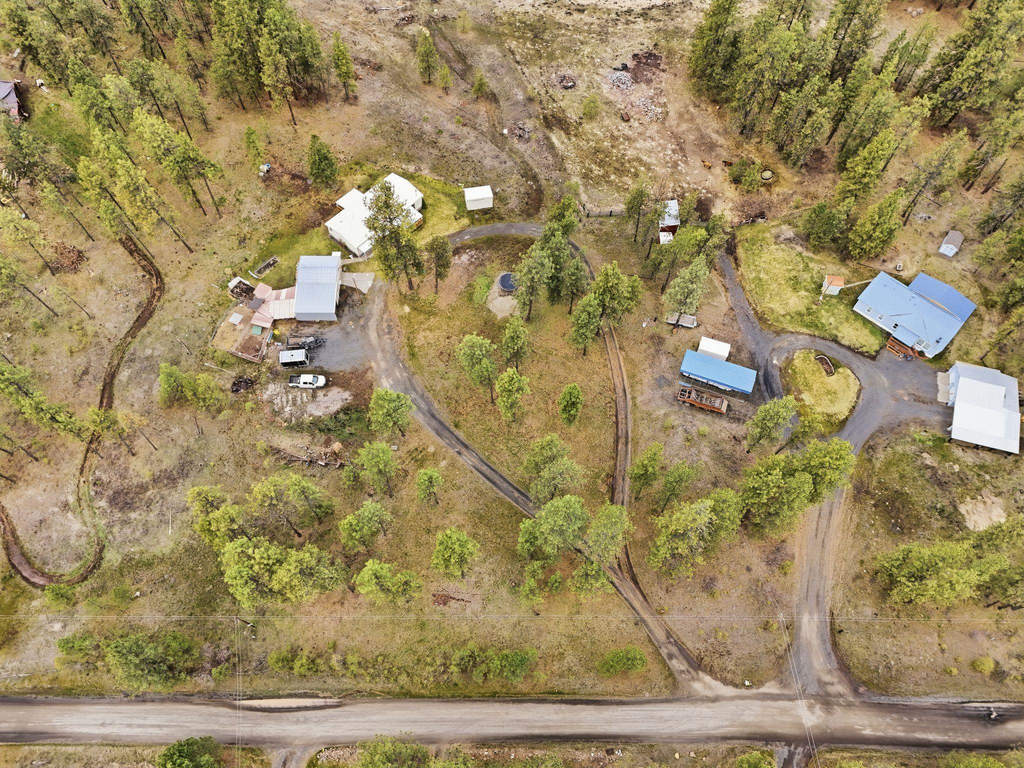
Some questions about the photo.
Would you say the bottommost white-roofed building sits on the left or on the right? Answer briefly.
right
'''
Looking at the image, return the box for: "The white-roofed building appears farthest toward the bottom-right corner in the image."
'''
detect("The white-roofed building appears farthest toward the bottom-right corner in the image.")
[942,361,1023,462]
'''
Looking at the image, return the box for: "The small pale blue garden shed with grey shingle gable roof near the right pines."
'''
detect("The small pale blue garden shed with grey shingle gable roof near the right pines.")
[939,231,965,257]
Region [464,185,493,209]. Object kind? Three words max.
shed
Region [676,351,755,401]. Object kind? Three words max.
shed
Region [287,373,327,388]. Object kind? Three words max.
vehicle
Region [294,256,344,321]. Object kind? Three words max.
building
